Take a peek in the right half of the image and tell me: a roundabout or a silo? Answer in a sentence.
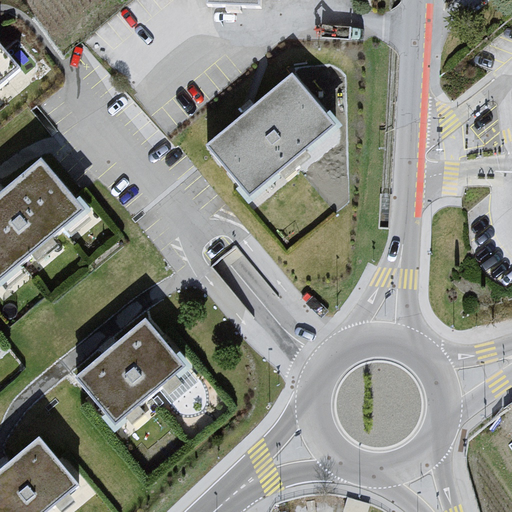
You can see a roundabout in the right half of the image.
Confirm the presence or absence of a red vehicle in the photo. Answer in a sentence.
Yes, a red vehicle is visible in the scene.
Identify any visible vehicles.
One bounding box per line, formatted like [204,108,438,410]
[70,45,83,68]
[500,271,512,286]
[214,13,237,27]
[474,108,494,130]
[135,25,152,45]
[108,96,128,114]
[120,184,138,204]
[388,239,400,261]
[475,226,496,246]
[471,214,492,233]
[176,89,195,113]
[166,148,184,166]
[491,260,512,280]
[474,54,495,68]
[120,8,138,28]
[111,177,130,196]
[206,238,226,257]
[295,326,316,341]
[150,144,171,163]
[318,24,360,40]
[482,250,505,269]
[302,292,328,316]
[188,84,204,104]
[476,240,498,261]
[502,27,512,38]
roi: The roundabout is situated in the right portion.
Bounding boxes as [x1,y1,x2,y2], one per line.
[295,320,464,489]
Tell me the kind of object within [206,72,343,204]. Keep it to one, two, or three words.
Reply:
building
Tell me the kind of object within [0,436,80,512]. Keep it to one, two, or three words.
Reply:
building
